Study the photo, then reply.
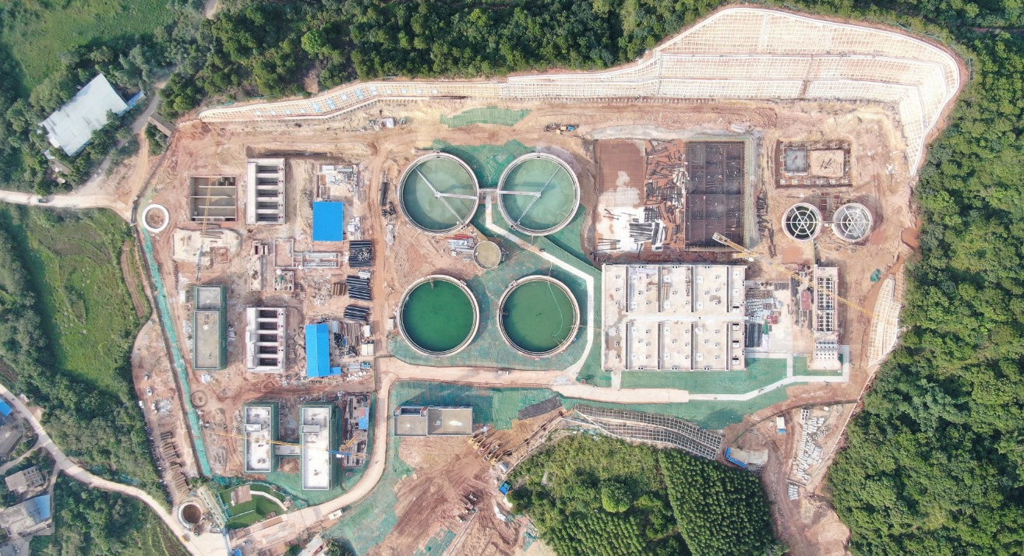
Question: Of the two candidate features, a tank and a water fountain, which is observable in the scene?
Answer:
tank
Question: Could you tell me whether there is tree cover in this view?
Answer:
Yes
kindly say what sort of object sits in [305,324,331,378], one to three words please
shed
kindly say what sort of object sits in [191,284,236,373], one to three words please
building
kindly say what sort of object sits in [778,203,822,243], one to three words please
storage tank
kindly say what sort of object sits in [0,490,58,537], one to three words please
house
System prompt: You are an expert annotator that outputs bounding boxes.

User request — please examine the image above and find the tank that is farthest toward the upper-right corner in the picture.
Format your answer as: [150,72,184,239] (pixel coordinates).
[828,202,872,242]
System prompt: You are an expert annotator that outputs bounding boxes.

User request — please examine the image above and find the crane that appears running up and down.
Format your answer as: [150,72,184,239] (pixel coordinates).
[193,116,233,279]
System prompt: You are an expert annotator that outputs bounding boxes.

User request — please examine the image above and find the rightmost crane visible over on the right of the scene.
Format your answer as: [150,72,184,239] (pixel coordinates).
[711,234,874,317]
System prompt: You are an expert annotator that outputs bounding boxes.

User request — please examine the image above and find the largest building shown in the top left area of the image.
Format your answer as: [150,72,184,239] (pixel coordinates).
[41,73,134,156]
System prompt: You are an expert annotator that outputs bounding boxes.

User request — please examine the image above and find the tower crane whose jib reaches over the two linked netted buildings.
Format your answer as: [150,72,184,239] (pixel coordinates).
[208,430,370,458]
